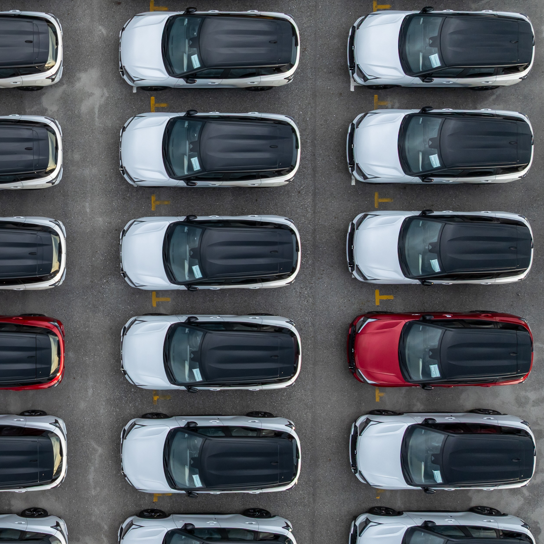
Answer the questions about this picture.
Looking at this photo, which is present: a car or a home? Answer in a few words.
car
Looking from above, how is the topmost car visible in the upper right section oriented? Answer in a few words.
horizontally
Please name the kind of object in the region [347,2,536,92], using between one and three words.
car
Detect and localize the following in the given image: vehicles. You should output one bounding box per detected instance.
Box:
[347,2,536,92]
[345,205,534,288]
[345,311,534,394]
[345,102,534,185]
[119,211,301,294]
[0,411,67,491]
[349,408,537,497]
[120,313,302,396]
[349,505,537,544]
[0,314,65,390]
[0,116,63,191]
[0,508,68,544]
[118,510,297,544]
[119,107,301,190]
[118,3,299,92]
[0,216,66,291]
[120,412,302,501]
[0,11,62,92]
